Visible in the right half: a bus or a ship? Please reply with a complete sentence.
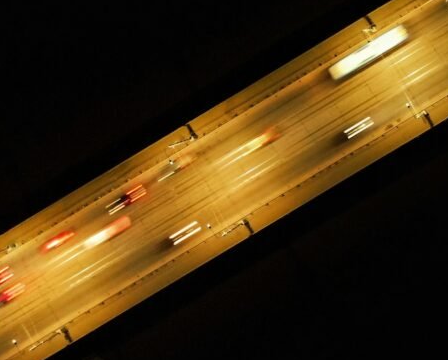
Visible in the right half is a bus.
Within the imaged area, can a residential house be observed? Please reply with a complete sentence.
No, no residential house can be seen from above.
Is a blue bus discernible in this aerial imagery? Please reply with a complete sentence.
No, the photo shows no blue bus.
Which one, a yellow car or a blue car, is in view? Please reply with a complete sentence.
There is a yellow car in the scene.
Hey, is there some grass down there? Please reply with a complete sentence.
No, there's no grass in this view.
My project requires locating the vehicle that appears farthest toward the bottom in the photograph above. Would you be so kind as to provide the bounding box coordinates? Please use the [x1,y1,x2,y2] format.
[0,288,18,306]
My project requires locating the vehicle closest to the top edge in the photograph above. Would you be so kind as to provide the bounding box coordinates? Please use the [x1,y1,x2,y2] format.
[327,25,408,82]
